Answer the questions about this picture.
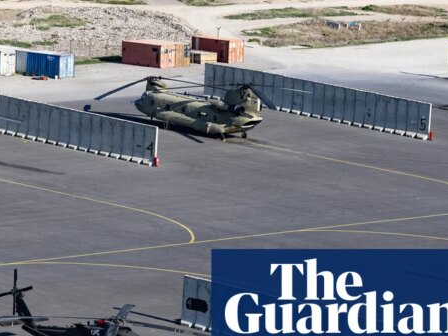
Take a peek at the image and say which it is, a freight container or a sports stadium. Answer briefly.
freight container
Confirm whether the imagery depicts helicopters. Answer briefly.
Yes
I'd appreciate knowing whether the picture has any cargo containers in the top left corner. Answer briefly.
Yes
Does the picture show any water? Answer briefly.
No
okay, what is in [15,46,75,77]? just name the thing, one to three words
shipping container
